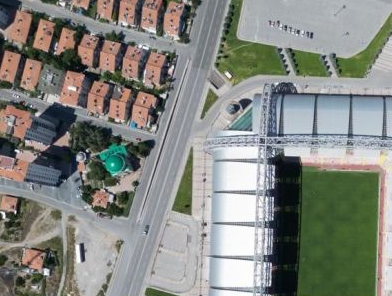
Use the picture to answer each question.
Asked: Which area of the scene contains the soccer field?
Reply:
bottom right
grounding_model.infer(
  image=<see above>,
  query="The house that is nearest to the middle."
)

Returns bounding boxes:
[133,95,160,128]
